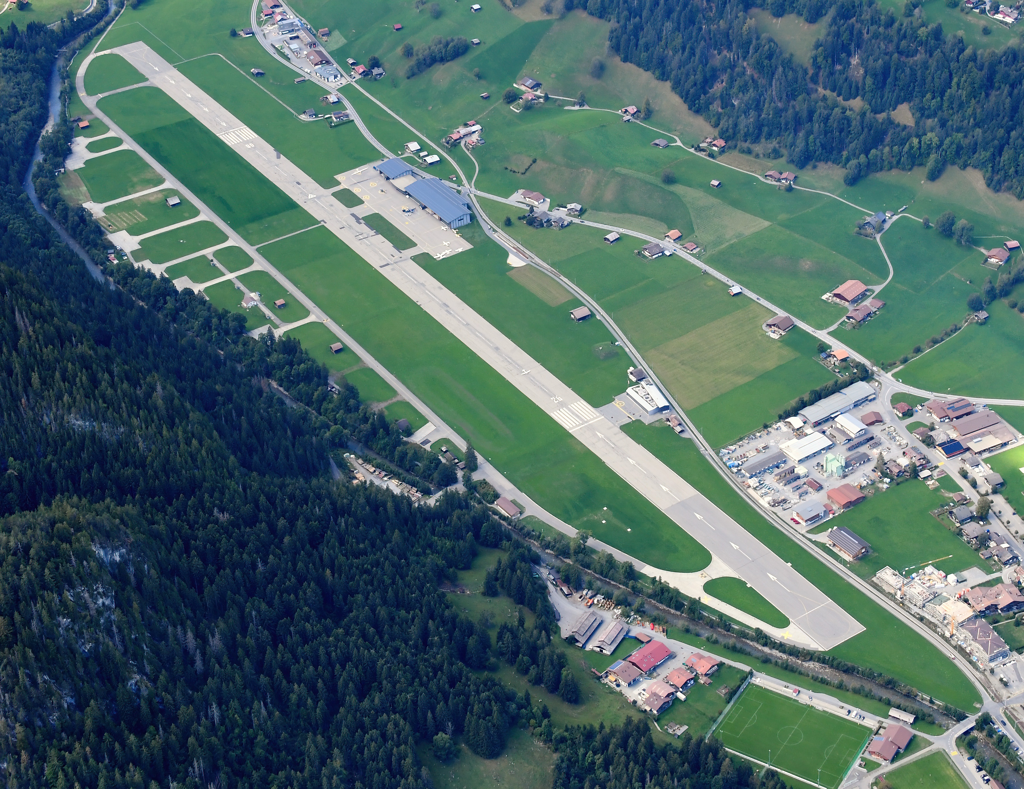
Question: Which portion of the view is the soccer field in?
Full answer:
Look in the bottom right portion of the view to spot the soccer field.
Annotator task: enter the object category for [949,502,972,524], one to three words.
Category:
house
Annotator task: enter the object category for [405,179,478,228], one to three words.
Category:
hangar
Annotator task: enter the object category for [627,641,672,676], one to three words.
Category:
barn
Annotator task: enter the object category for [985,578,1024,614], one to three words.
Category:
building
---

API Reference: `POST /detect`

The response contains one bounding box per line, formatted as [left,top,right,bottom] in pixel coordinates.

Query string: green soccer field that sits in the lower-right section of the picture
[703,682,875,789]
